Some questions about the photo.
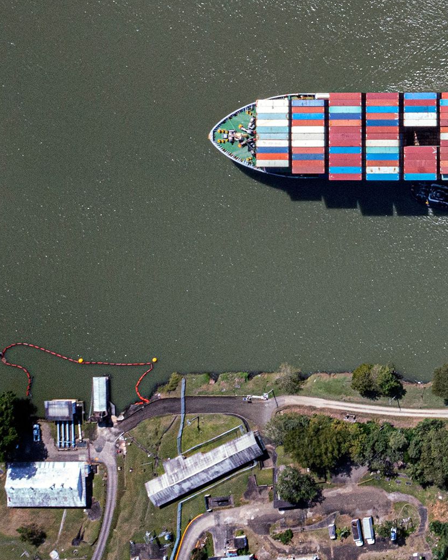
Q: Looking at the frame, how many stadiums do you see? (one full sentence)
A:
The photo contains no stadiums.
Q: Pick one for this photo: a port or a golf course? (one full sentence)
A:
This looks like a port.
